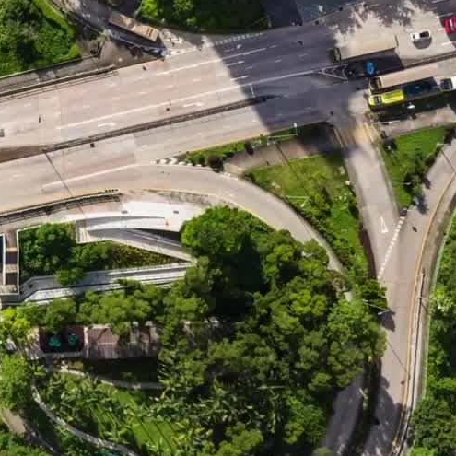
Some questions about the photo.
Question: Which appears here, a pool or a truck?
truck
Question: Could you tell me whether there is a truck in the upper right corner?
Yes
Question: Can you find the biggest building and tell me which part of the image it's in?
bottom left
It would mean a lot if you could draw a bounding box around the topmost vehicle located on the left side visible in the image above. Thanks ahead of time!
[108,10,160,41]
